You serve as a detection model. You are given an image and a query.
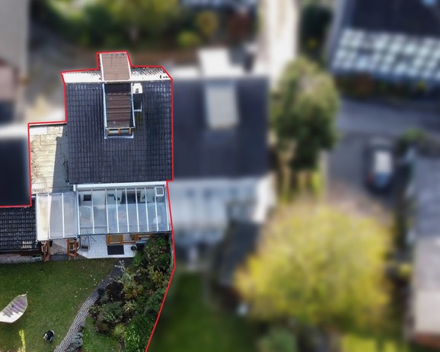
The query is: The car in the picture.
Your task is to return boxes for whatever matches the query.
[363,145,397,194]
